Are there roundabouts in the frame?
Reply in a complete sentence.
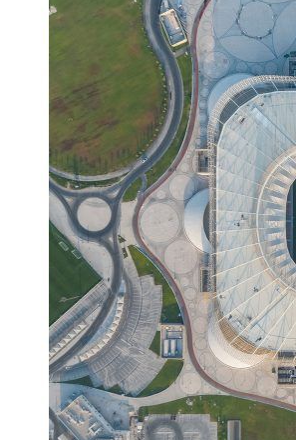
Yes, a roundabout appears in the view.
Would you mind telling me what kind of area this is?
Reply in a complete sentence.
This image shows a sports ground.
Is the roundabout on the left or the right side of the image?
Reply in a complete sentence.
It is on the left.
